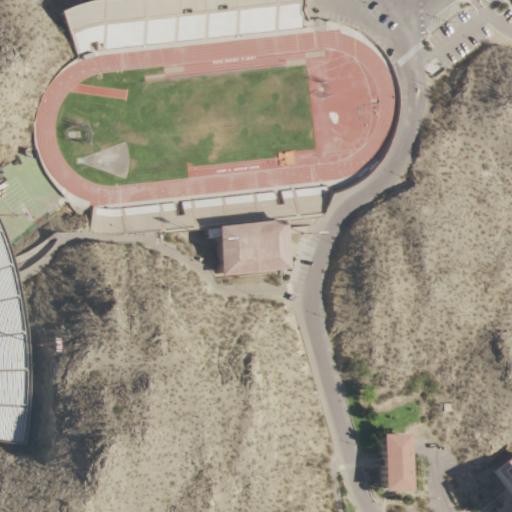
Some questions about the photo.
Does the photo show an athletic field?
Yes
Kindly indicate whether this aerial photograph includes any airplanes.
No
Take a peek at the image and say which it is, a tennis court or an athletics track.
athletics track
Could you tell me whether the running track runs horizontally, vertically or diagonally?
horizontally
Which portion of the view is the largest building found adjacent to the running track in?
center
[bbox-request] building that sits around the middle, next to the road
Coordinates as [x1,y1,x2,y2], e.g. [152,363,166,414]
[206,220,293,274]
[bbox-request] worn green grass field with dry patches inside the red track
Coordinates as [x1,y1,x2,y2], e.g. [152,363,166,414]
[53,49,336,186]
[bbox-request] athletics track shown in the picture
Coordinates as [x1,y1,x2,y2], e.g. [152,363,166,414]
[34,30,398,204]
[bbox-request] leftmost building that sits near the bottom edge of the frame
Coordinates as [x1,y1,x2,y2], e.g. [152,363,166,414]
[378,434,417,491]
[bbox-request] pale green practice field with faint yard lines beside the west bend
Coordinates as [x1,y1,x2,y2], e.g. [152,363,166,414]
[0,152,60,243]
